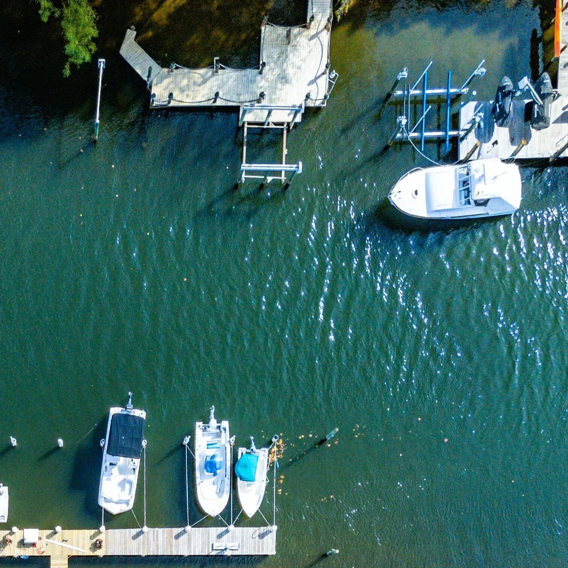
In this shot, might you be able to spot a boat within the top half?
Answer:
Yes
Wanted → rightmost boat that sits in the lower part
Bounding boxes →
[234,434,270,517]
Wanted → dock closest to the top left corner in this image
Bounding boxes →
[120,0,338,126]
